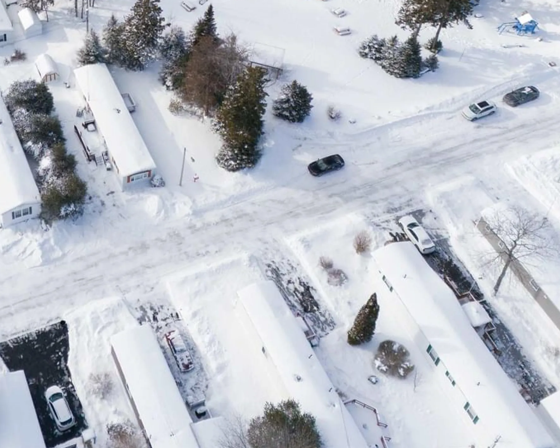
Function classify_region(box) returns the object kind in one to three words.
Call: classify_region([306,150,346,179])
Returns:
car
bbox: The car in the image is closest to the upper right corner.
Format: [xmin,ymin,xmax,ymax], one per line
[502,84,541,109]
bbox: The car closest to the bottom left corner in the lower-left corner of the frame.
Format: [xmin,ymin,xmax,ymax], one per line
[46,383,76,436]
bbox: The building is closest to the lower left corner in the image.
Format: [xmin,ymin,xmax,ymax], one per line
[0,372,49,448]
